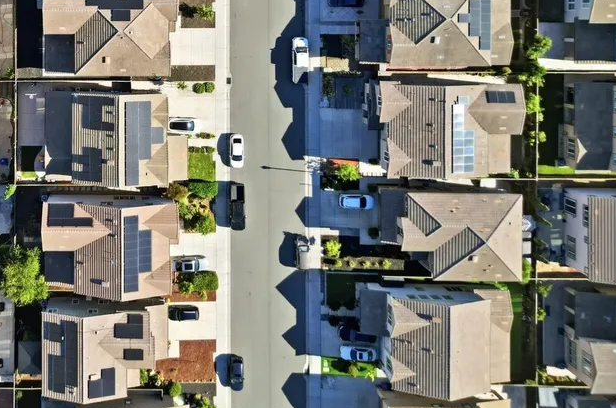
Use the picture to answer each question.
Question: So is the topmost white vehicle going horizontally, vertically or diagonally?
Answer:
vertically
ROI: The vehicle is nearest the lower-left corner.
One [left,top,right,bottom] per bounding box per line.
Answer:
[168,305,199,322]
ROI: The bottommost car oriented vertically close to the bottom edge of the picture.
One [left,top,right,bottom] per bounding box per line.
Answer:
[229,352,246,389]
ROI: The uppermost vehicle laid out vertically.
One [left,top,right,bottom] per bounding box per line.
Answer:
[291,37,311,84]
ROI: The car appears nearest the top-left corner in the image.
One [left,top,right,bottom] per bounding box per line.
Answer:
[171,117,207,134]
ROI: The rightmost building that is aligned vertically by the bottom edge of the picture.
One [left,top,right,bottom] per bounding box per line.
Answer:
[566,283,616,394]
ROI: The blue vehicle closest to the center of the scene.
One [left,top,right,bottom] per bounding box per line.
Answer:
[338,193,375,211]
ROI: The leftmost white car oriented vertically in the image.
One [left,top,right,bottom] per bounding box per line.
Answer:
[229,133,245,167]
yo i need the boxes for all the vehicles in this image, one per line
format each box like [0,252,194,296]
[338,193,375,211]
[168,305,199,322]
[291,37,311,84]
[340,344,377,363]
[328,0,365,8]
[337,325,377,344]
[229,352,246,389]
[229,133,245,167]
[174,256,209,273]
[294,234,312,270]
[228,183,248,229]
[171,117,207,134]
